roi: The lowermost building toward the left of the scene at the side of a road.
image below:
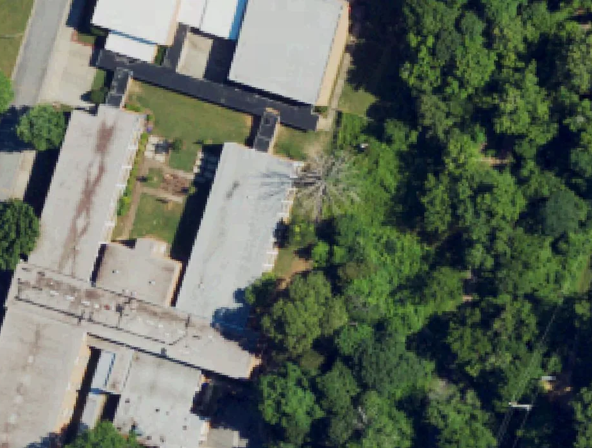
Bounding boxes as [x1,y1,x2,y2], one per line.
[0,105,311,448]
